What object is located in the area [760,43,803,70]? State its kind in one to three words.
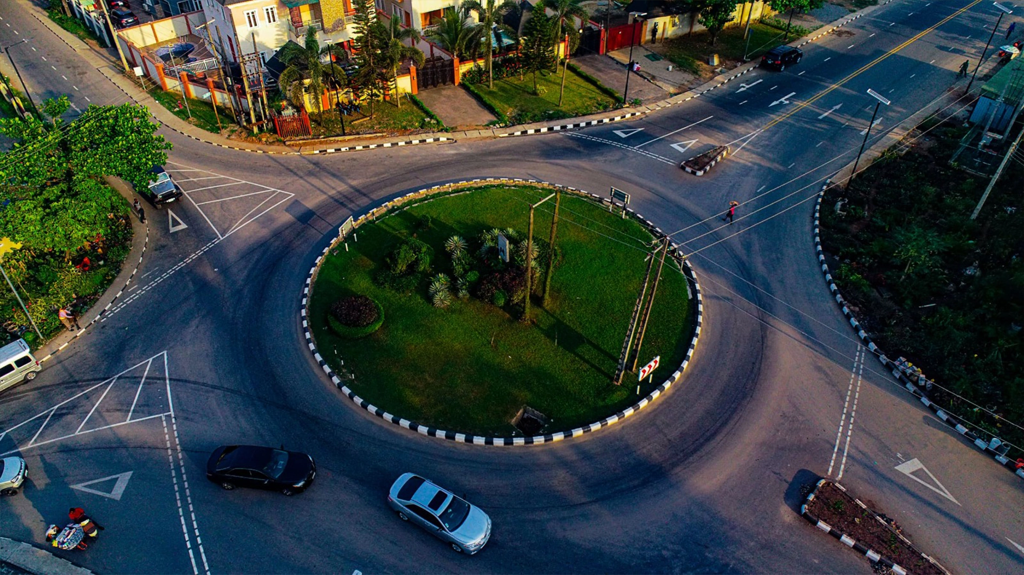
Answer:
car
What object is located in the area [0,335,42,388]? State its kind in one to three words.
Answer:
van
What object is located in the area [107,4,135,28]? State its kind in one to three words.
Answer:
car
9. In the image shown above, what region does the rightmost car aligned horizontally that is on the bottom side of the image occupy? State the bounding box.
[202,443,320,496]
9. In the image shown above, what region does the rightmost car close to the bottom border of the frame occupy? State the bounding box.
[387,470,498,558]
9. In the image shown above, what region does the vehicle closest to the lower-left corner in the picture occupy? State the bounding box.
[0,443,35,494]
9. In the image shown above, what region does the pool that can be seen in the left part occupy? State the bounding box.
[143,34,220,82]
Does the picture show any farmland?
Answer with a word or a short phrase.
No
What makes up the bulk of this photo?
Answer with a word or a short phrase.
paved ground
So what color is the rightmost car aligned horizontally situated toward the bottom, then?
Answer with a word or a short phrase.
black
